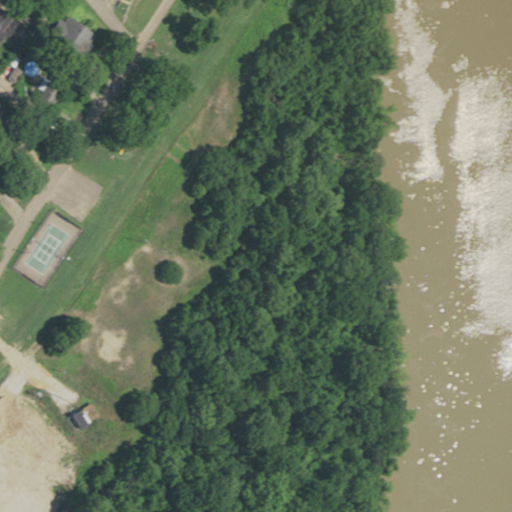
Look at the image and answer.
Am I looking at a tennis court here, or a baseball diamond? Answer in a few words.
tennis court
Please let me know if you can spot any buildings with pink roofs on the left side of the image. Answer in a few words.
No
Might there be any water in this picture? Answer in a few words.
Yes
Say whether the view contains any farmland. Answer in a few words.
No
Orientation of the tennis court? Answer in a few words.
at an angle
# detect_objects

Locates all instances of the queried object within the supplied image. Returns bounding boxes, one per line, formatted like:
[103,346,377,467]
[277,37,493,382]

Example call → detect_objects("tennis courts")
[14,210,82,288]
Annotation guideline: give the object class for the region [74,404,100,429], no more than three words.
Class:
house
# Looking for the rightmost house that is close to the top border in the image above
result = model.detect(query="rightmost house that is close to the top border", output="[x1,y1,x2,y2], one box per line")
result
[60,19,94,53]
